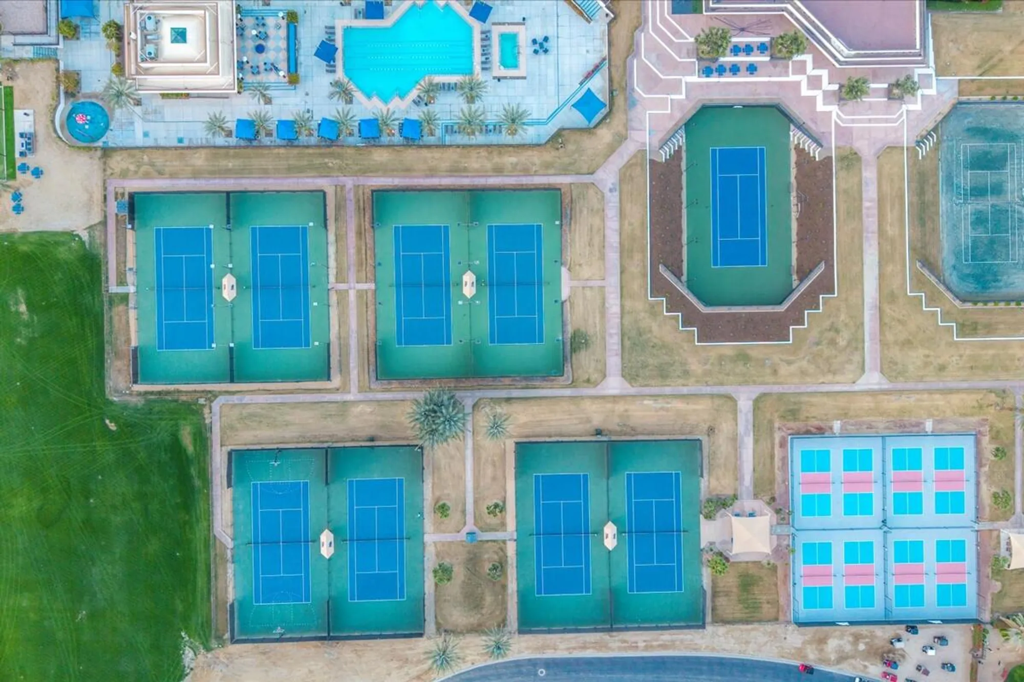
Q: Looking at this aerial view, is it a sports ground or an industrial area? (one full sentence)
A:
It's a sports ground.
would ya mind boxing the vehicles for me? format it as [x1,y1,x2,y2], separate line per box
[891,637,908,652]
[940,660,958,674]
[881,669,898,682]
[923,643,940,658]
[904,625,921,638]
[915,663,932,678]
[798,662,814,676]
[932,635,950,649]
[853,677,867,682]
[885,658,902,673]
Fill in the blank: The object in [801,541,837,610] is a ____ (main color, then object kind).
blue sports court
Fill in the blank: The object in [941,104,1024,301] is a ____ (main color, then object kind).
blue tennis court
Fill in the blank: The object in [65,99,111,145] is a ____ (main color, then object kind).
blue swimming pool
